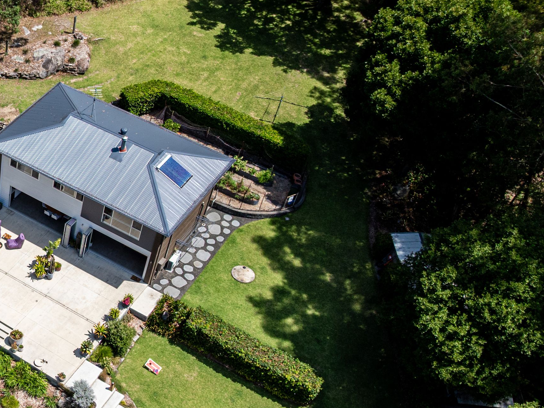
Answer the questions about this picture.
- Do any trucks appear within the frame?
No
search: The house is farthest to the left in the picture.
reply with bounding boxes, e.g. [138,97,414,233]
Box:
[0,81,237,285]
